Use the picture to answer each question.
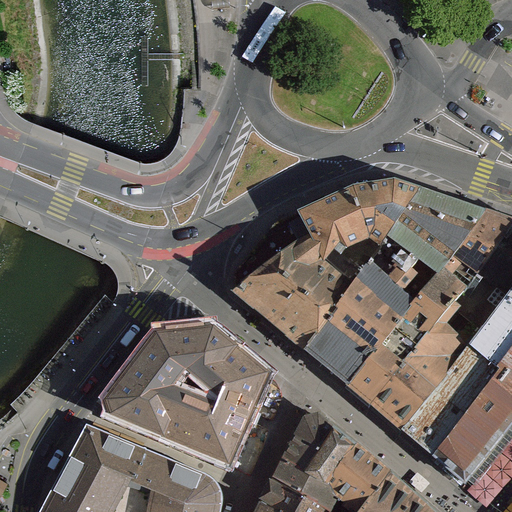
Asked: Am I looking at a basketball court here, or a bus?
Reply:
bus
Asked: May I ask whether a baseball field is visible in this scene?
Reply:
No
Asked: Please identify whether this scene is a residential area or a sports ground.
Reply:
residential area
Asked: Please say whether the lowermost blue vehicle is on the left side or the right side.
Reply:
left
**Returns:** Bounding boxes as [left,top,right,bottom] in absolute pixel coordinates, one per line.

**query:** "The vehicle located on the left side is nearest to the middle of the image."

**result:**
[172,227,198,240]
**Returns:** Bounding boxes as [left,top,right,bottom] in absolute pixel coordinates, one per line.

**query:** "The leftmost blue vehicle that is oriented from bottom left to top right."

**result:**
[45,448,65,472]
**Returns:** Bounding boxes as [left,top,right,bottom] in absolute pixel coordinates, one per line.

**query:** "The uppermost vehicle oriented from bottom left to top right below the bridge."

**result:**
[119,324,140,348]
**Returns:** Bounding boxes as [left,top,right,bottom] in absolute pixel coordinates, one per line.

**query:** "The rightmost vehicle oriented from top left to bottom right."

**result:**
[480,124,505,142]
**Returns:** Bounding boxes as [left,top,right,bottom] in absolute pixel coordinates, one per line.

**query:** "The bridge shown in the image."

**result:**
[0,116,150,264]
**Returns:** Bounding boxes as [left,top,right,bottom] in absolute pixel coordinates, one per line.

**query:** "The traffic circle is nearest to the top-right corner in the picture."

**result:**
[270,2,394,132]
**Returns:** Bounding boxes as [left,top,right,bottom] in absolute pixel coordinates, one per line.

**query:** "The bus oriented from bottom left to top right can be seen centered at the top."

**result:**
[242,3,287,62]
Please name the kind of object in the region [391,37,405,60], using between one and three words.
car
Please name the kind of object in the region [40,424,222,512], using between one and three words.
building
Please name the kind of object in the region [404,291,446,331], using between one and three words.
house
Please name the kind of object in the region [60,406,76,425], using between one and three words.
car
